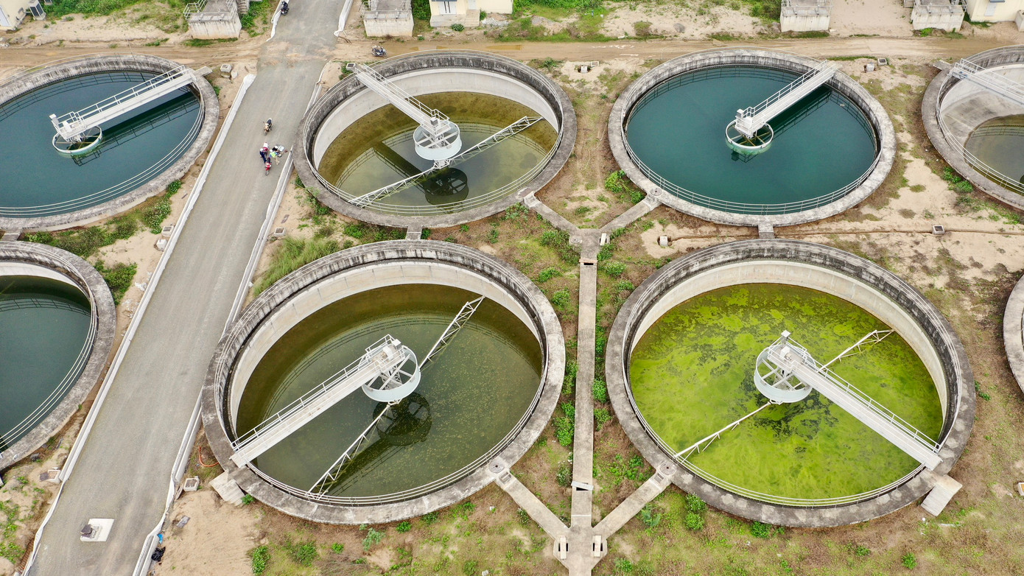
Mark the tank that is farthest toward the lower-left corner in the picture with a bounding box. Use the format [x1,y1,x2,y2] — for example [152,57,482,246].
[0,242,117,475]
